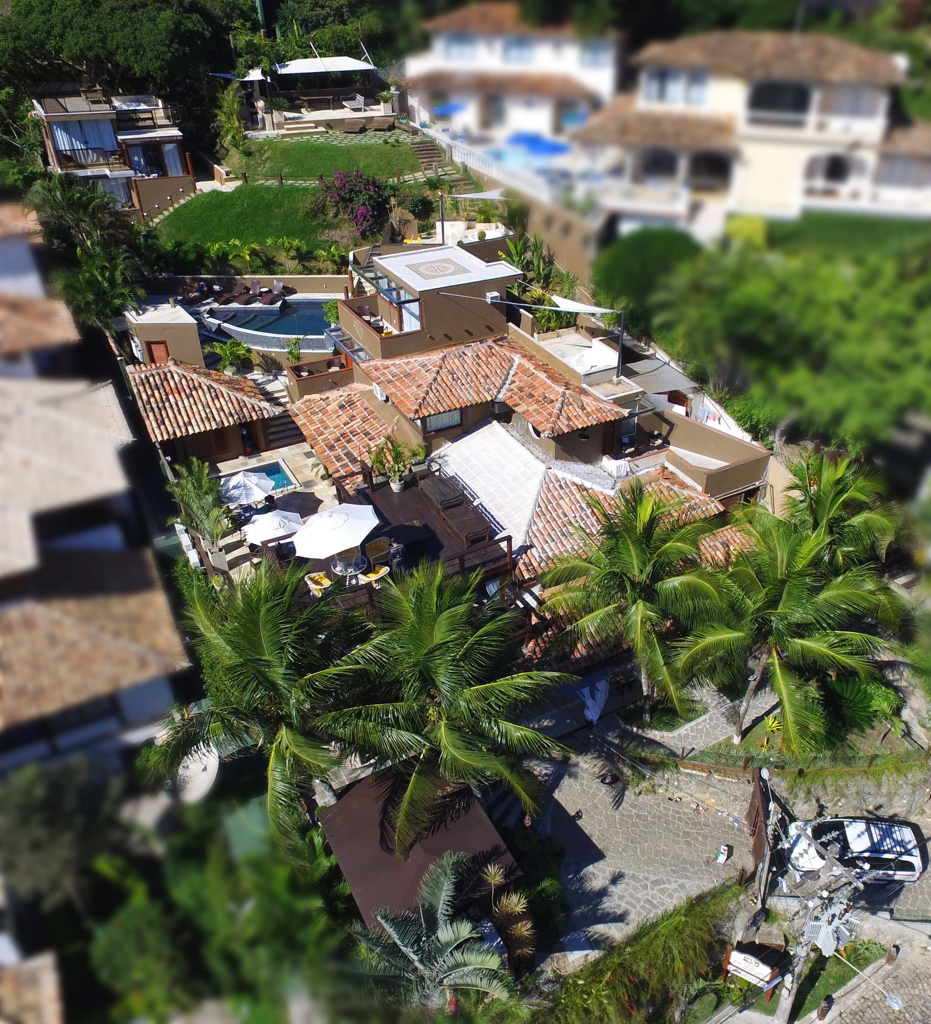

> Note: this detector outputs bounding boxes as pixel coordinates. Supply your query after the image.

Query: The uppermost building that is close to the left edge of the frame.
[38,82,199,230]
